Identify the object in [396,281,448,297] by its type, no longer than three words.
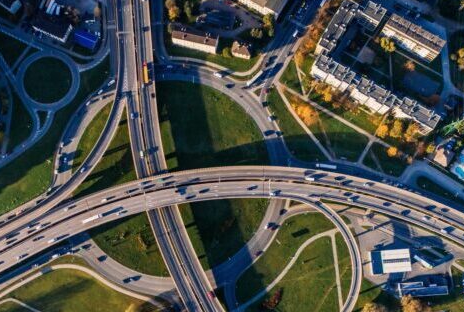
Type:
building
